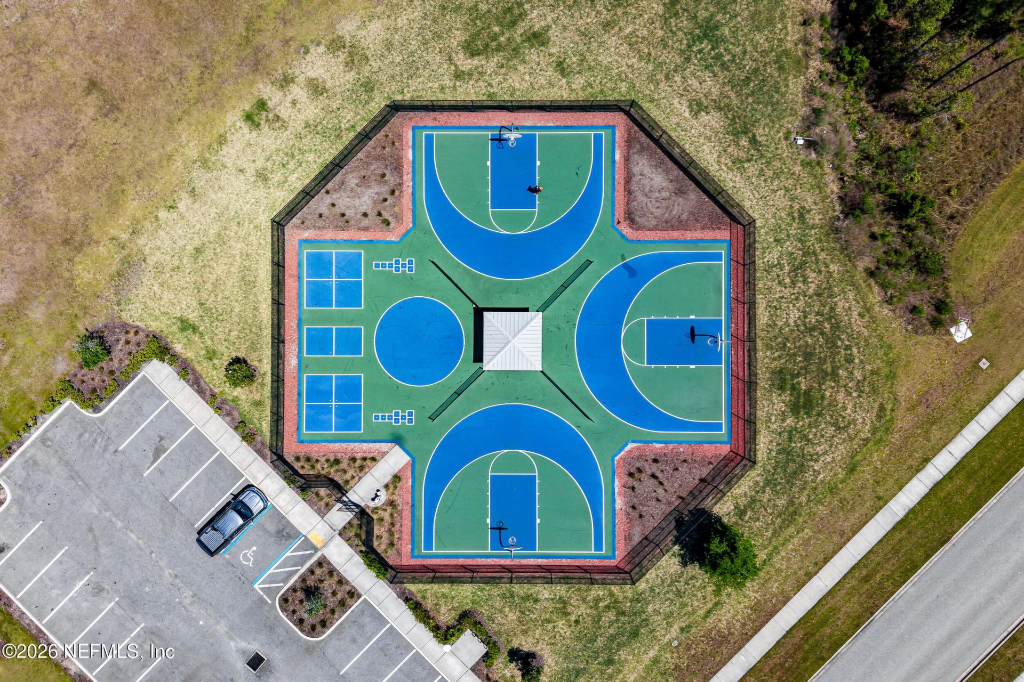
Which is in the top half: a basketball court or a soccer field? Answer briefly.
basketball court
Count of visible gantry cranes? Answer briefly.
none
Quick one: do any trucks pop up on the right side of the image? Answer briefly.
No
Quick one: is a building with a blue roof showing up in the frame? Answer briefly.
No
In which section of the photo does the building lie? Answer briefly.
center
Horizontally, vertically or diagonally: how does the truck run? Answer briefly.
diagonally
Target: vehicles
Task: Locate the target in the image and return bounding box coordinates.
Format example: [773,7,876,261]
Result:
[195,489,268,558]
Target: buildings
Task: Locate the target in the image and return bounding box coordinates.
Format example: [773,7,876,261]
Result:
[483,311,543,371]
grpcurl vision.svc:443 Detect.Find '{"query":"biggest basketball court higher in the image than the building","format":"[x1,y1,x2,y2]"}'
[423,132,604,279]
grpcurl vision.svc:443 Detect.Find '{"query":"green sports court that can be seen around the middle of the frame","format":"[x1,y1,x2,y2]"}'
[298,125,731,559]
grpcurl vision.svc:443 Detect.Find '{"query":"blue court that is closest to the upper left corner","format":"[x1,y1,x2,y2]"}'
[304,250,363,308]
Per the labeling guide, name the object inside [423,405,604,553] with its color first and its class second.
blue basketball court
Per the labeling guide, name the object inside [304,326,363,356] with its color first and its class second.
blue sports court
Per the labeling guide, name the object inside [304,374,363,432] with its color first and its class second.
blue sports court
